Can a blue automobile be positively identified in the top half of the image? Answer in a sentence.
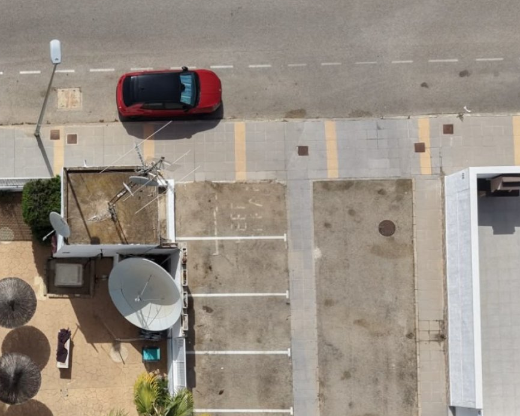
No, I can find no blue automobile in the top half of the image.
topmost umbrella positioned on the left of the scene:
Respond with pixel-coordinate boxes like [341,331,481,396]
[0,275,36,330]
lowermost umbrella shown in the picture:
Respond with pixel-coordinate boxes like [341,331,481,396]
[0,351,40,403]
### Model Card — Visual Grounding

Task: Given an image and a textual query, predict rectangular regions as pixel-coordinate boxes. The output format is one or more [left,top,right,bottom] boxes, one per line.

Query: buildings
[444,164,520,416]
[51,168,193,336]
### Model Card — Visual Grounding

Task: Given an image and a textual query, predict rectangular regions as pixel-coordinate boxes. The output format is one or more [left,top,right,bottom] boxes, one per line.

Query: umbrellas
[0,275,36,330]
[0,351,40,403]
